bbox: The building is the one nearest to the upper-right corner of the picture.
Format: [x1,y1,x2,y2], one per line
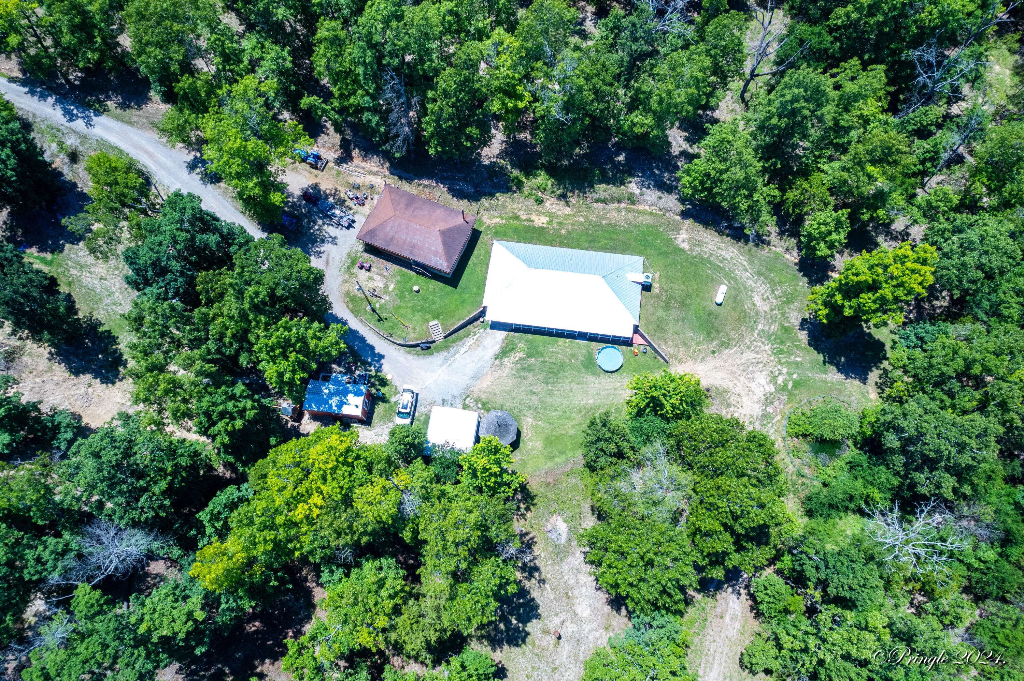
[482,240,648,347]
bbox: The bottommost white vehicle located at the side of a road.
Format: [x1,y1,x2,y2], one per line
[394,384,416,426]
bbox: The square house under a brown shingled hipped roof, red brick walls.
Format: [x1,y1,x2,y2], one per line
[356,184,477,290]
